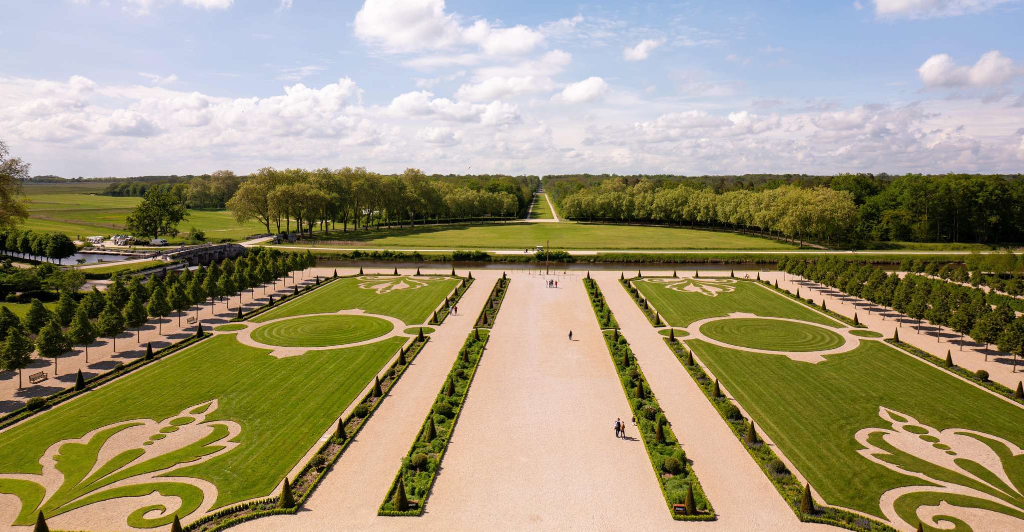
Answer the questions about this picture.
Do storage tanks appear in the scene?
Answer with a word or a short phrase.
No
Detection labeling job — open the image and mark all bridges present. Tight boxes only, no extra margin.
[154,242,253,262]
